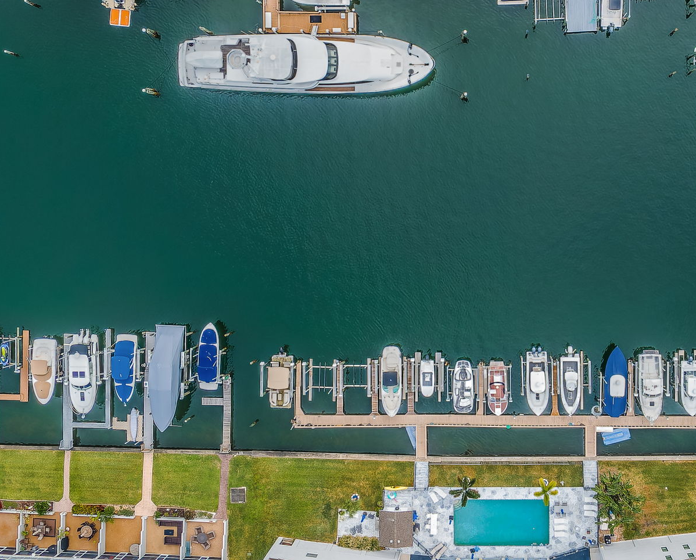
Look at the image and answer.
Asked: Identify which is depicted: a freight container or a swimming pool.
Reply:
swimming pool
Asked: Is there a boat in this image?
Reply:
Yes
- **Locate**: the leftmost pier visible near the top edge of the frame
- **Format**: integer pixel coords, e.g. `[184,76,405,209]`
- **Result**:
[261,0,357,34]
